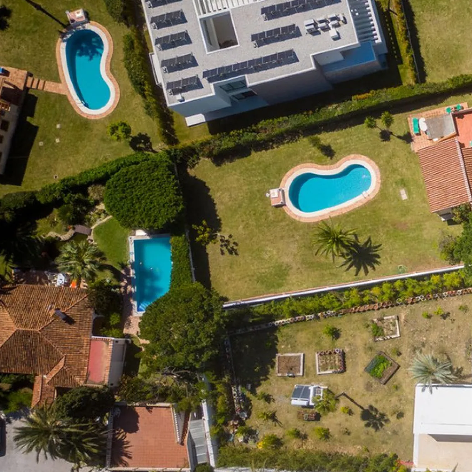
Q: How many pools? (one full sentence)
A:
The picture shows 3 pools.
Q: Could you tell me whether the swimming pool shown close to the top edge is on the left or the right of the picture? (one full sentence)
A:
The swimming pool shown close to the top edge is on the left side of the image.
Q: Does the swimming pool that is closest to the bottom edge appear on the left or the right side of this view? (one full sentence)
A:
The swimming pool that is closest to the bottom edge is on the left side of the image.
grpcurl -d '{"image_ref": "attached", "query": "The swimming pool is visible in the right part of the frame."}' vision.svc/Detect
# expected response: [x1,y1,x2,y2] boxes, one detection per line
[280,155,382,221]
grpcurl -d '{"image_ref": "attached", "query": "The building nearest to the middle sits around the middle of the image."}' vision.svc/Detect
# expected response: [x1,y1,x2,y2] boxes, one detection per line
[269,187,288,208]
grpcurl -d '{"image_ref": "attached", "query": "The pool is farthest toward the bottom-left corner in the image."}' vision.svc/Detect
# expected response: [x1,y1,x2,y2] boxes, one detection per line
[128,232,176,317]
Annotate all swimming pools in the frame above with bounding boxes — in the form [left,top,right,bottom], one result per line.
[56,20,121,120]
[128,232,176,317]
[280,155,382,221]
